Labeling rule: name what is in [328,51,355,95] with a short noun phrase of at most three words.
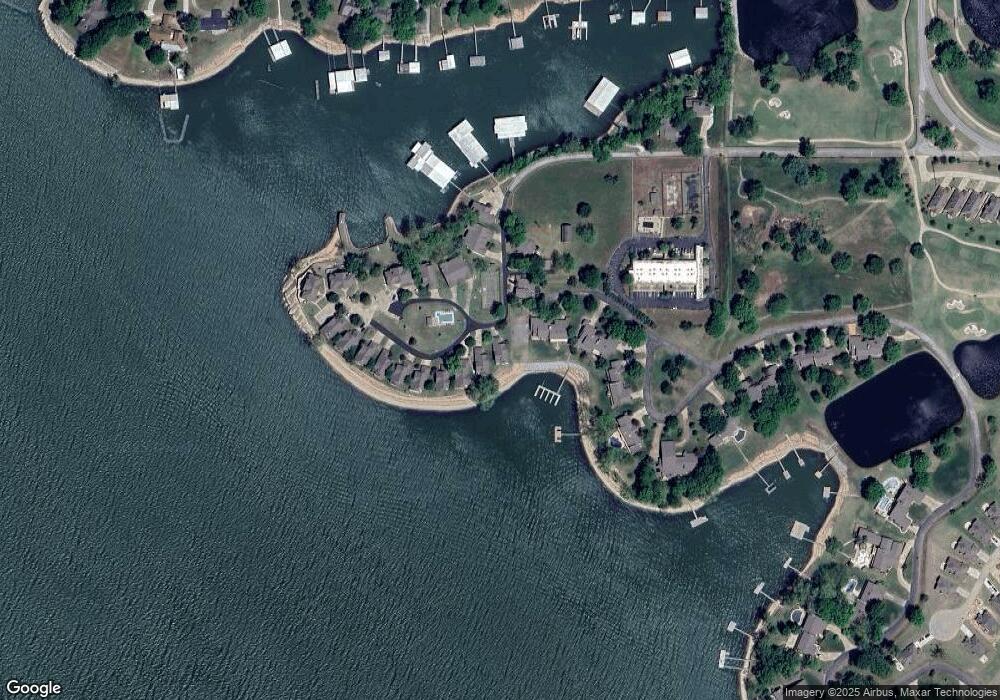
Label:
pier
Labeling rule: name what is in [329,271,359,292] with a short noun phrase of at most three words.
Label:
house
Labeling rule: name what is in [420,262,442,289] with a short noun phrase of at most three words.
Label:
house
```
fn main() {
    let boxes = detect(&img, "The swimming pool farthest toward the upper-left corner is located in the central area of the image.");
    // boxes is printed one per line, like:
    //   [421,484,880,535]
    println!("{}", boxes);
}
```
[430,310,455,326]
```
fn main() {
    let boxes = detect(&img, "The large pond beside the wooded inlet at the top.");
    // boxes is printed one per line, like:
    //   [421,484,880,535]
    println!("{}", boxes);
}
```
[736,0,858,77]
